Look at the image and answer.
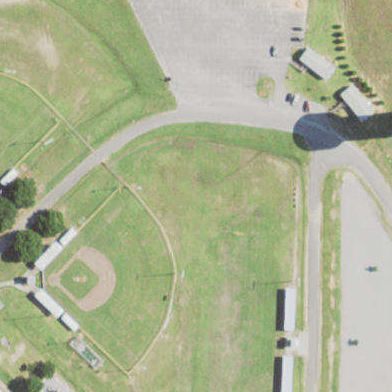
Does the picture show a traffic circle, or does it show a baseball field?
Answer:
baseball field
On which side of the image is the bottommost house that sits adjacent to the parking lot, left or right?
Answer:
right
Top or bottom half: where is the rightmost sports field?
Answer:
bottom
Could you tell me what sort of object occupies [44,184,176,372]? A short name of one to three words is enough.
baseball field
